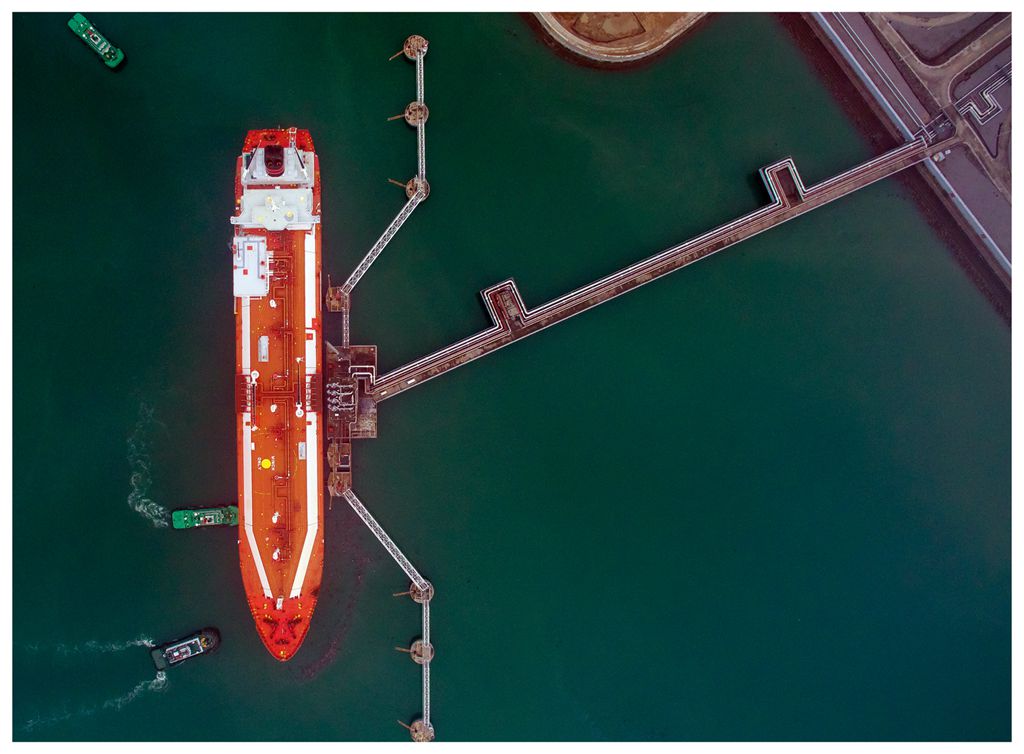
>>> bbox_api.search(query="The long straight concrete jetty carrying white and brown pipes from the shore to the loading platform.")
[349,133,948,403]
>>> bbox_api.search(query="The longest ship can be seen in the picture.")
[230,127,325,663]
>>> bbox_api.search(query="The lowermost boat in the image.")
[152,630,220,670]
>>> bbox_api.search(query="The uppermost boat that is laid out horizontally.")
[172,506,238,529]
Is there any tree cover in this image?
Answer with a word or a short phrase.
No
